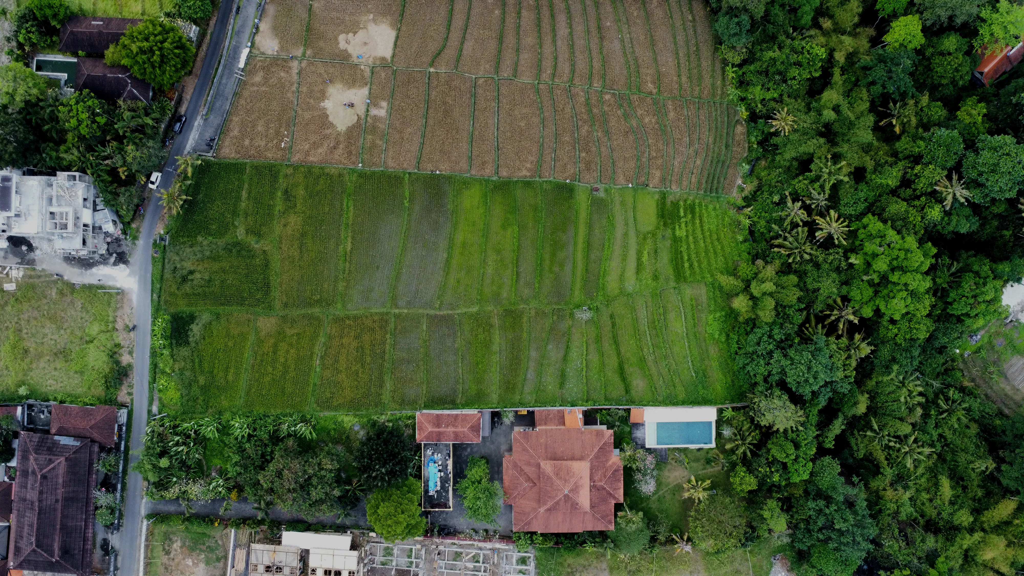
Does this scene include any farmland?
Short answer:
Yes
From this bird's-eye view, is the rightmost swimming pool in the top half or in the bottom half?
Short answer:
bottom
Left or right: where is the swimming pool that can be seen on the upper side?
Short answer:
left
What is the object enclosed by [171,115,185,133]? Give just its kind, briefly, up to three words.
car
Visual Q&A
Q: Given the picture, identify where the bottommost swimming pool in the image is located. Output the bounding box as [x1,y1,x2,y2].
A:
[645,420,716,448]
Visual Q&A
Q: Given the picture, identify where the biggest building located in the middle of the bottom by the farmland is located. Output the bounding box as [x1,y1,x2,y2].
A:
[503,423,624,532]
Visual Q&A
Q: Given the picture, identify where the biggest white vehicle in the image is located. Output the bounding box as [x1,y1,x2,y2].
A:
[148,171,161,190]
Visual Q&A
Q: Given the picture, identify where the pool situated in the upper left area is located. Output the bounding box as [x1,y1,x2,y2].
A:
[34,57,76,91]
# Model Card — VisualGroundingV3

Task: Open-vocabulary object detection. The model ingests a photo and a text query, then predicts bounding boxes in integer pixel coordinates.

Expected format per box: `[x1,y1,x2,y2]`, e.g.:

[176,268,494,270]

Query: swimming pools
[34,57,76,91]
[645,420,716,448]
